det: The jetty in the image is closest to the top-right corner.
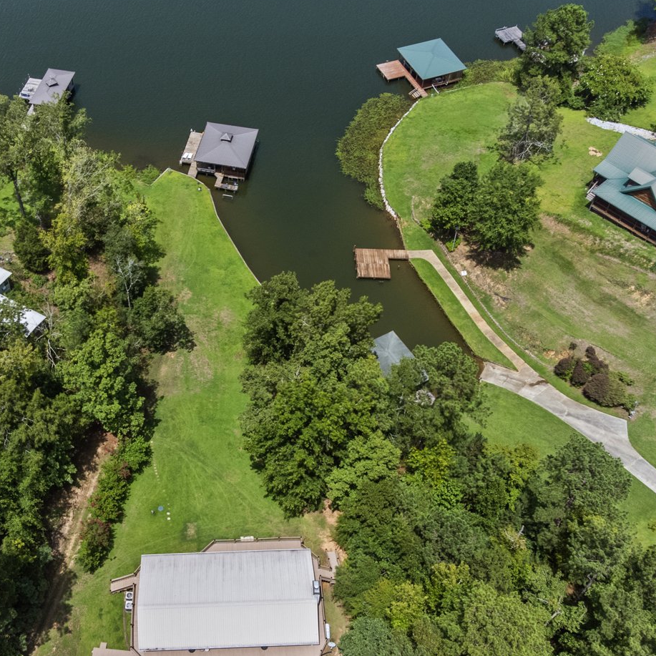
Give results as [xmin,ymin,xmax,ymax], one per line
[494,20,523,58]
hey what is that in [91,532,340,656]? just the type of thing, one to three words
house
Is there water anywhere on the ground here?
Yes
